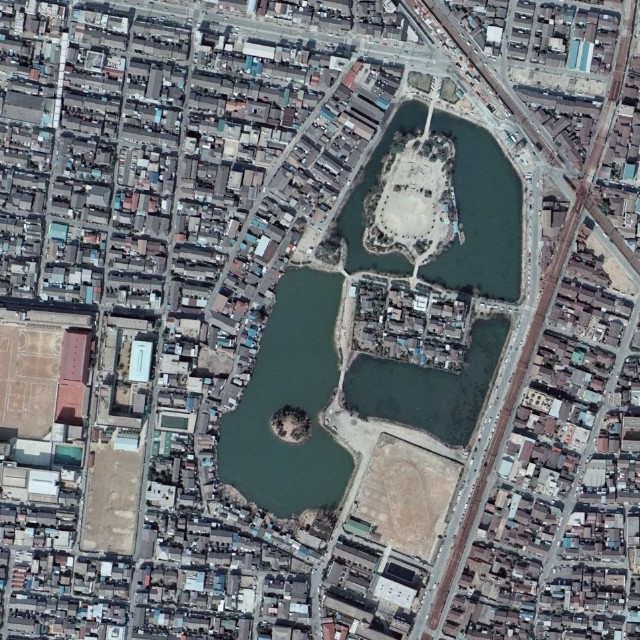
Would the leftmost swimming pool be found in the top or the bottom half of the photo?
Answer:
bottom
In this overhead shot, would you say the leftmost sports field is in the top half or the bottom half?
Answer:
bottom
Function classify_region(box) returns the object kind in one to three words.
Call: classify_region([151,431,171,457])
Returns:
building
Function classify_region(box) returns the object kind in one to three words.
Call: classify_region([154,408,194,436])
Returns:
swimming pool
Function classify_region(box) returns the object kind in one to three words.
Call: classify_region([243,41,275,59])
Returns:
shed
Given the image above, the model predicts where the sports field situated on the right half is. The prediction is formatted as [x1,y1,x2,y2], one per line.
[351,433,463,562]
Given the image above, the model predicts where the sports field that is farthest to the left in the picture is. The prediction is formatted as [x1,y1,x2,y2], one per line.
[81,438,143,553]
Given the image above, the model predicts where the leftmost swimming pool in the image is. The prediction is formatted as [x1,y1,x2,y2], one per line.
[52,442,84,468]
